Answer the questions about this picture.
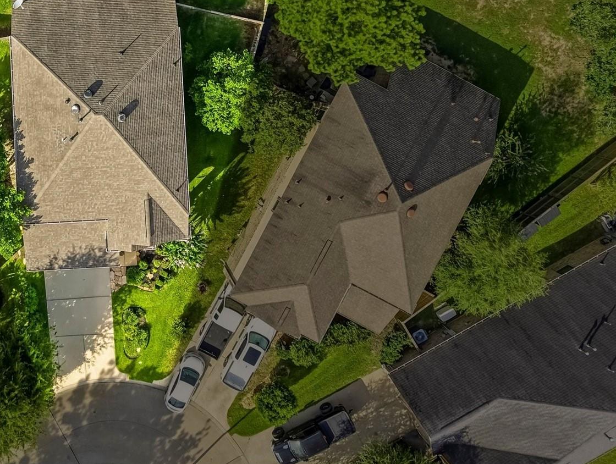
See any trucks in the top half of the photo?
No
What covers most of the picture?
buildings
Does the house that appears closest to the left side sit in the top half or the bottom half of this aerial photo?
top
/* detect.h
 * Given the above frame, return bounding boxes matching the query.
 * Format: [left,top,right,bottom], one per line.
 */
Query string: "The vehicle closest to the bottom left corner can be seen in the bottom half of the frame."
[162,346,206,416]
